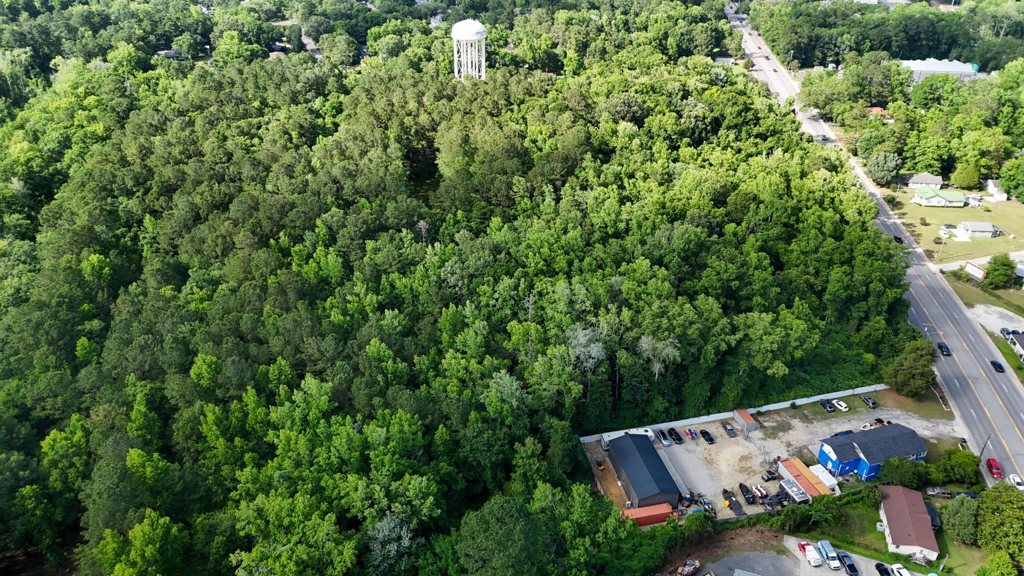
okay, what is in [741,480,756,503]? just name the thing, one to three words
boat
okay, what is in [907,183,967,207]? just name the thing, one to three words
building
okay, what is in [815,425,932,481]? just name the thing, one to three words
house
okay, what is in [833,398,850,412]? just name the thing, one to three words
car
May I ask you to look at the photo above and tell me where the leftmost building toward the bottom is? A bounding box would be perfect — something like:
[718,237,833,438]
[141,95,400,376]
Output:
[608,434,681,508]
